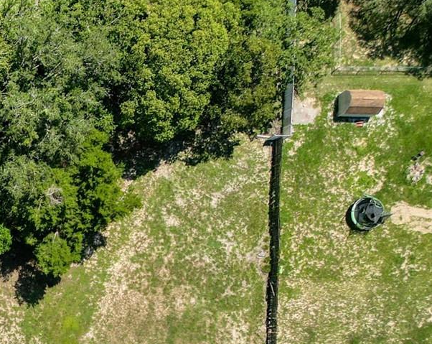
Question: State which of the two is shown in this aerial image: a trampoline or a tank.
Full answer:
It is a trampoline that can be seen here.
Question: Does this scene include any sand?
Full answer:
No, no sand is visible.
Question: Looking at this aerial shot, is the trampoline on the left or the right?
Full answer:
You can find the trampoline on the right side of the picture.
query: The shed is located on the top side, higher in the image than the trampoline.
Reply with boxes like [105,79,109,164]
[337,90,389,117]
